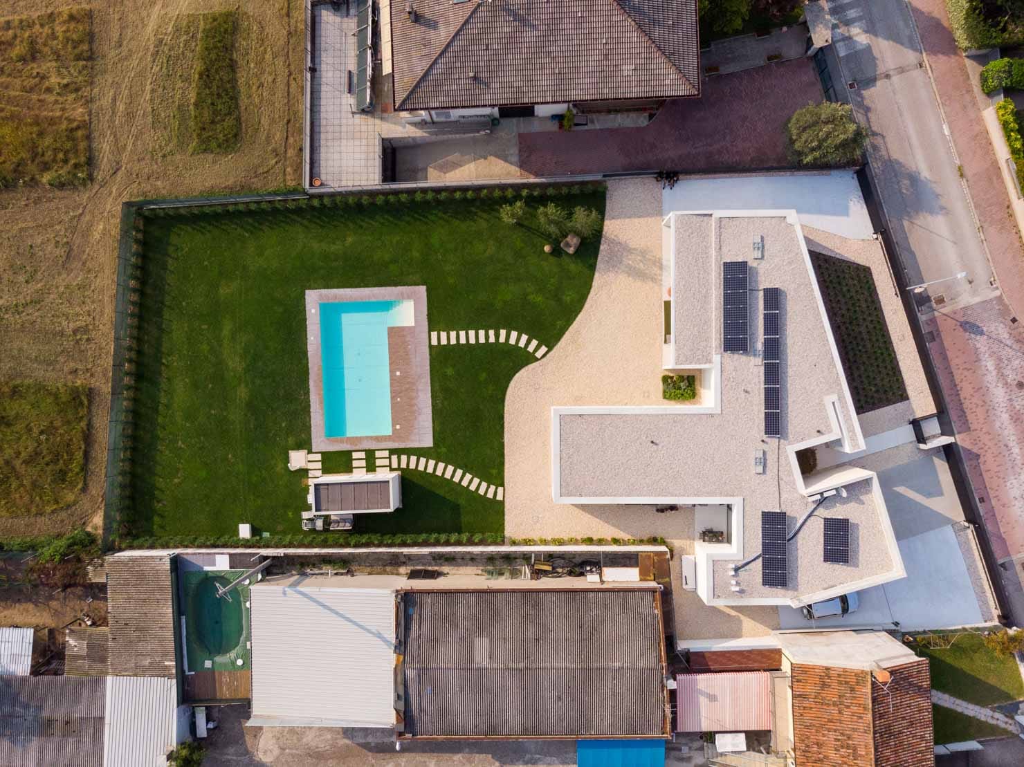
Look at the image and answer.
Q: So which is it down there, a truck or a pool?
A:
pool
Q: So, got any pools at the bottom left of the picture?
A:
Yes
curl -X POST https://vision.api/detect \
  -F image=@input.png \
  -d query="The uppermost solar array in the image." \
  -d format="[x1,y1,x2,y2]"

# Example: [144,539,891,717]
[724,261,749,353]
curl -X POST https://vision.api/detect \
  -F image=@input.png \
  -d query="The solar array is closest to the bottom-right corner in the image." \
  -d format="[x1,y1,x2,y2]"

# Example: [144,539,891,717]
[823,516,849,564]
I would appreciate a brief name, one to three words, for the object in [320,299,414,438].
swimming pool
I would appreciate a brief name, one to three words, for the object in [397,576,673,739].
shed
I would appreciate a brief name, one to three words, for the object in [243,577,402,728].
shed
